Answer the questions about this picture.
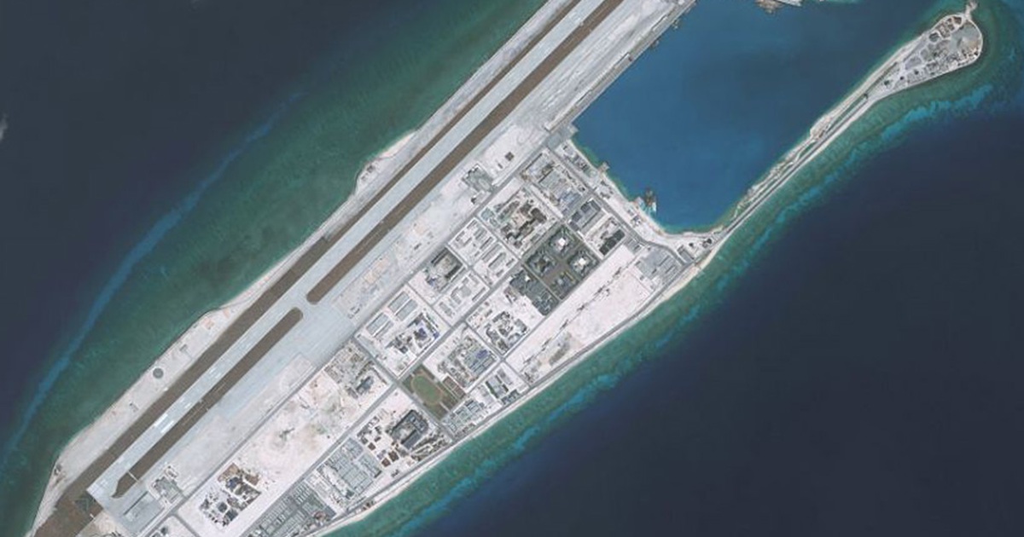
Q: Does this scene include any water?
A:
Yes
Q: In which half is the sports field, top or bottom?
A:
bottom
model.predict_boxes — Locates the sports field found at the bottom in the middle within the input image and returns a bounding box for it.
[403,365,464,419]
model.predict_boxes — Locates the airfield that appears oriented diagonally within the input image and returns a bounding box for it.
[34,0,635,537]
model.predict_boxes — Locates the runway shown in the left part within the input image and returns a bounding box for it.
[87,0,603,505]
